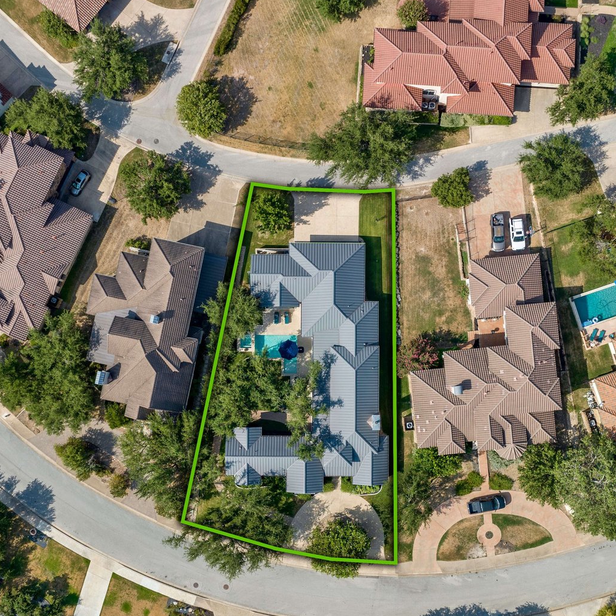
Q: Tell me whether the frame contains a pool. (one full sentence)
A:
Yes, looking at the shot, I can spot a pool.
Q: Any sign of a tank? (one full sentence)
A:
No, this view has no tank in it.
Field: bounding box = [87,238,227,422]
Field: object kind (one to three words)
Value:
house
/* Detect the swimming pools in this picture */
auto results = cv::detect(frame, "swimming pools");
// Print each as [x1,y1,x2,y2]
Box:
[238,333,300,376]
[572,284,616,330]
